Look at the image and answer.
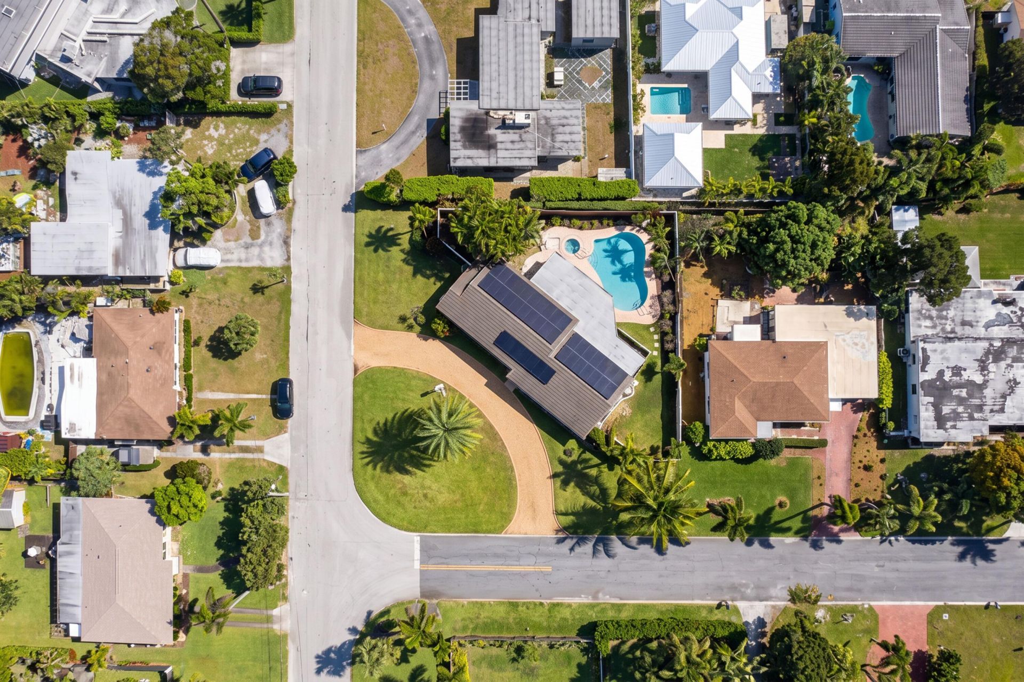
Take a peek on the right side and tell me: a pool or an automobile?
pool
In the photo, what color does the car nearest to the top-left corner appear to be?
black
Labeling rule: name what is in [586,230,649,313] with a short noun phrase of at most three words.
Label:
swimming pool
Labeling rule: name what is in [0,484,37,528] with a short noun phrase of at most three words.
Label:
shed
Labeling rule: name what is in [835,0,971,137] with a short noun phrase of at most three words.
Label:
house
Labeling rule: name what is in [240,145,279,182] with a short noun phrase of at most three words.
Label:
car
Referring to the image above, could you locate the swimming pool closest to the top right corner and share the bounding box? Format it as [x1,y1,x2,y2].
[845,73,875,143]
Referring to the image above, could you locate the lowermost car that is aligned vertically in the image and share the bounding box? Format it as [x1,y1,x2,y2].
[273,377,295,420]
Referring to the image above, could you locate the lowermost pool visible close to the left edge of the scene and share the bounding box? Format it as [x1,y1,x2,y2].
[0,329,39,420]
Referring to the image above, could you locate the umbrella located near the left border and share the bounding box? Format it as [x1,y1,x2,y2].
[26,543,48,559]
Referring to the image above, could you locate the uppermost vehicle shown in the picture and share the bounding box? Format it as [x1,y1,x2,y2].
[239,74,282,97]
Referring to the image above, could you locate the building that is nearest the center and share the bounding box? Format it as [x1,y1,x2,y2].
[436,252,645,439]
